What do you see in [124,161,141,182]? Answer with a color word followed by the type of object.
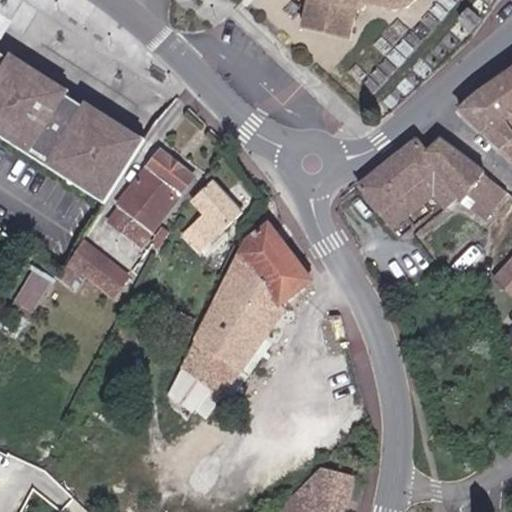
white vehicle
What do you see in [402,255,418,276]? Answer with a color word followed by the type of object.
white car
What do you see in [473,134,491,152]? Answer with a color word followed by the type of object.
white car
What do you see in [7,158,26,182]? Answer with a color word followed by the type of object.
white vehicle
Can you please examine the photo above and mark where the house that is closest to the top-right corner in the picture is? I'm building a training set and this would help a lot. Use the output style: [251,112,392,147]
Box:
[458,68,512,150]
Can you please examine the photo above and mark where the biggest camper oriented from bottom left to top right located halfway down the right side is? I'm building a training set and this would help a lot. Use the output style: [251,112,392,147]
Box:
[453,244,482,272]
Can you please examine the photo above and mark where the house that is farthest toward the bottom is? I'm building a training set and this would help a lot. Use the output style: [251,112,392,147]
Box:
[278,466,355,512]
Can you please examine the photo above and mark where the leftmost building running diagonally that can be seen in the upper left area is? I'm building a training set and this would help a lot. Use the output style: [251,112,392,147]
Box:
[0,52,145,204]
